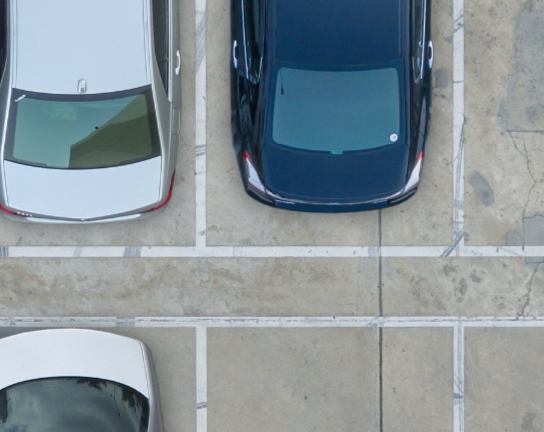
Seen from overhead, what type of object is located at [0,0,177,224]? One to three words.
car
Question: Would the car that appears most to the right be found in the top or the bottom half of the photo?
top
